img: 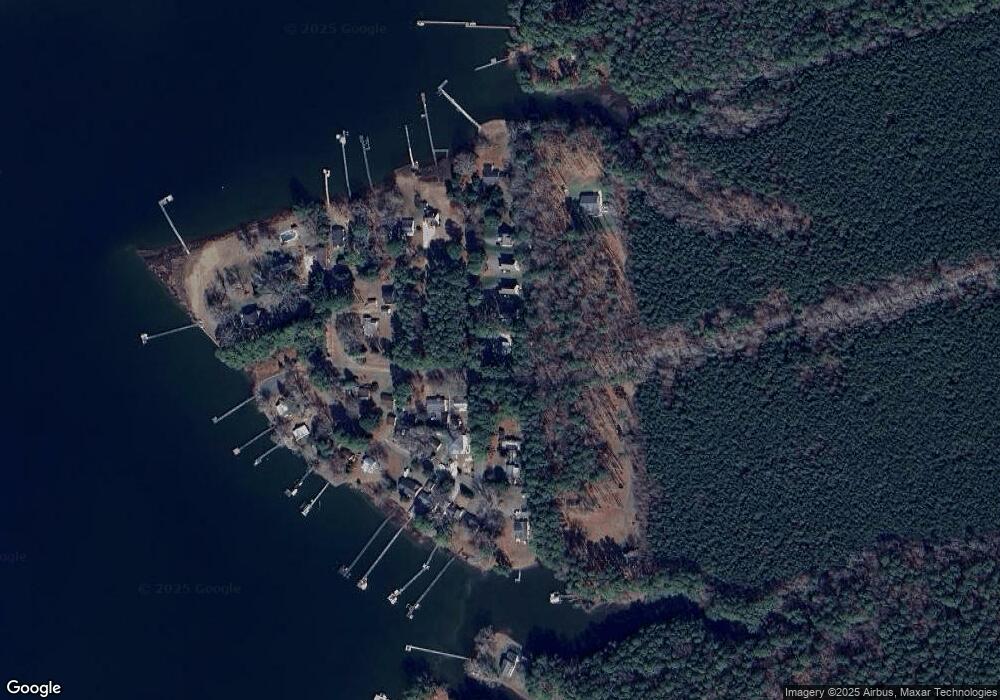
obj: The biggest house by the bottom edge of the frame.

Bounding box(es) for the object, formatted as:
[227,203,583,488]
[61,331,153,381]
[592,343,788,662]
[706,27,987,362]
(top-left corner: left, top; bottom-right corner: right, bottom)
[500,651,521,679]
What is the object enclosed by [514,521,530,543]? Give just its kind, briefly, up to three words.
house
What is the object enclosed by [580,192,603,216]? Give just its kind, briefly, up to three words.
house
